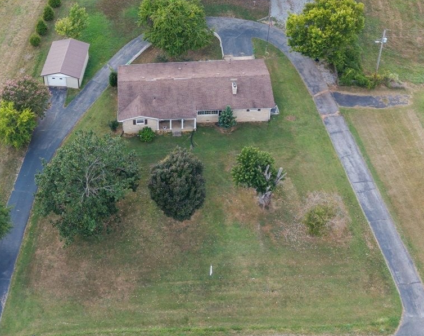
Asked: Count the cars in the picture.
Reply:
0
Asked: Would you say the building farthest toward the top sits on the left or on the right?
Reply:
left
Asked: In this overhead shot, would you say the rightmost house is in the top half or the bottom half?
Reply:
top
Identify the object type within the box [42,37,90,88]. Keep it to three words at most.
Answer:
building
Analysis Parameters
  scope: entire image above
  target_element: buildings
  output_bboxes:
[117,60,281,134]
[42,37,90,88]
